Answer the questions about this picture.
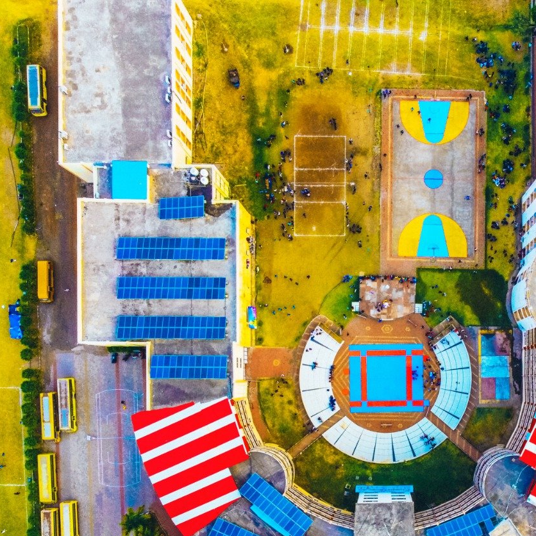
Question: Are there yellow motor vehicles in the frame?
Yes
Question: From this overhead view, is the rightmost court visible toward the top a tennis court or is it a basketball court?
basketball court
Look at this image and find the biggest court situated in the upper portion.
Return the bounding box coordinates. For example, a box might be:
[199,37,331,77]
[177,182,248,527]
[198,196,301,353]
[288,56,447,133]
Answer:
[380,90,485,267]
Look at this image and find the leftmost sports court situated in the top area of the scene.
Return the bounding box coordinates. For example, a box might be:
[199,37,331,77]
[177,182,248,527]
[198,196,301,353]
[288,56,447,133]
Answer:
[294,135,347,237]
